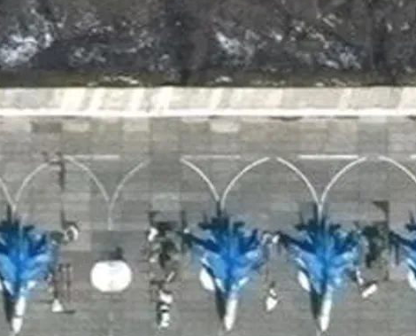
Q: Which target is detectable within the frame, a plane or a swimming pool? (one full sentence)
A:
The image shows a plane.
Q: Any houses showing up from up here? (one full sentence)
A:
No, the picture doesn't show any house.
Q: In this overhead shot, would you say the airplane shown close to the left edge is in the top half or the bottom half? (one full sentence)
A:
It is in the bottom half that the airplane shown close to the left edge appears.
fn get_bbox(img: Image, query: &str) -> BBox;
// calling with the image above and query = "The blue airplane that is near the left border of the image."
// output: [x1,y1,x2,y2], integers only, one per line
[0,215,53,332]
